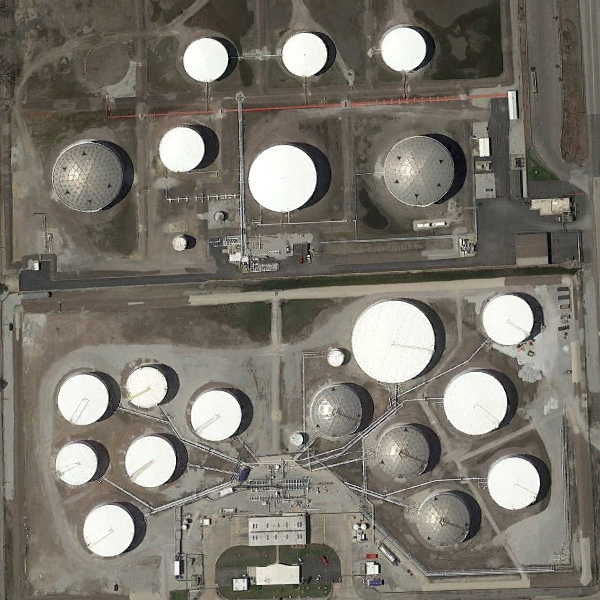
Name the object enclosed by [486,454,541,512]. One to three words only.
storage tank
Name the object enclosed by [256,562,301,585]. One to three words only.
building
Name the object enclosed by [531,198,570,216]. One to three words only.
building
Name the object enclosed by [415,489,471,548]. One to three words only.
storage tank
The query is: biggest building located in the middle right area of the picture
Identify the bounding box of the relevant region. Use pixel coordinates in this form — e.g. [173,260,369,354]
[516,233,548,265]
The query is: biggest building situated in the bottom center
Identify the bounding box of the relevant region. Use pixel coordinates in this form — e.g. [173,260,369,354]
[249,516,306,546]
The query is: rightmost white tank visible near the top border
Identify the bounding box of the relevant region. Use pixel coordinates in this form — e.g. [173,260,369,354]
[380,24,428,72]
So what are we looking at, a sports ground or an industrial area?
industrial area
